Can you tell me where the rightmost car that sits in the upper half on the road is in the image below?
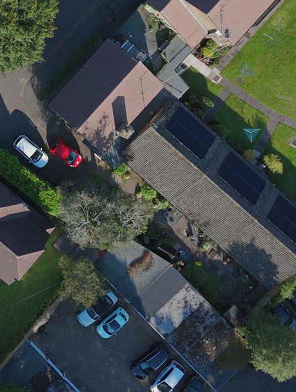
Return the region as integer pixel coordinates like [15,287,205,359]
[50,137,82,166]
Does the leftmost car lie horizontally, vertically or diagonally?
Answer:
diagonally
